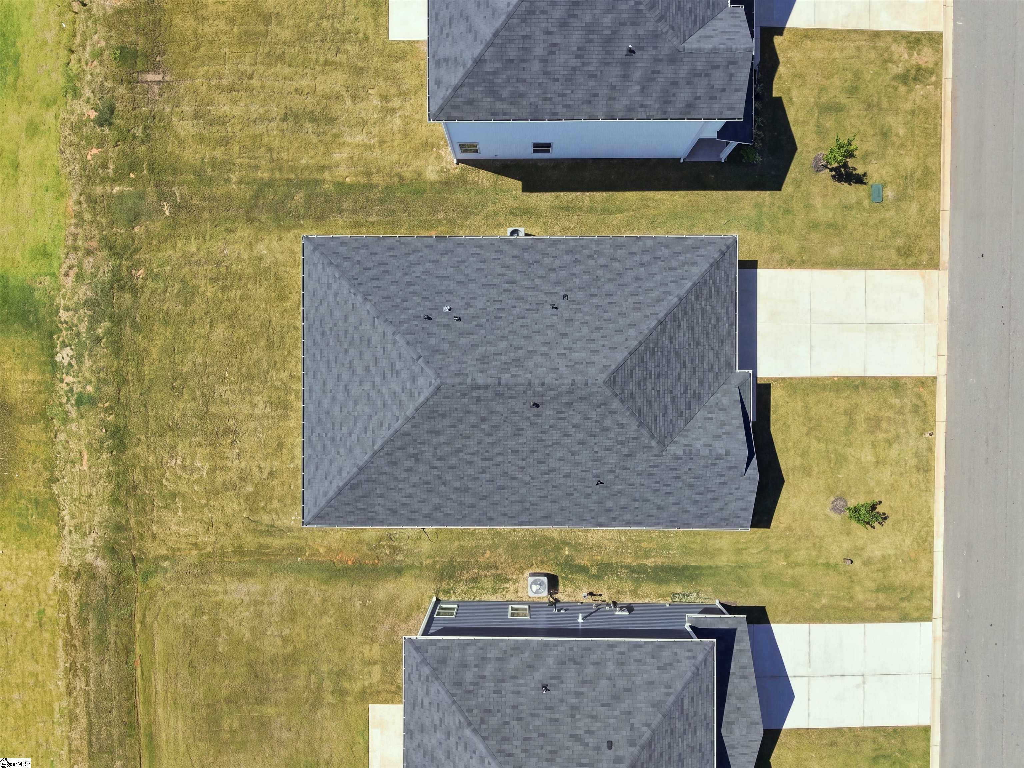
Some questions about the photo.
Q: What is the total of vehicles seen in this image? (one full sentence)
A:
The photo contains no vehicles.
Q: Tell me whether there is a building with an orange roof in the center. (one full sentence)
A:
No, there is no building with an orange roof in the center.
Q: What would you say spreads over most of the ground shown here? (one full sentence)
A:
The bulk of the photo consists of grass.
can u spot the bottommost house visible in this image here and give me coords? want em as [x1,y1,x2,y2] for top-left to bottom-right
[403,591,764,768]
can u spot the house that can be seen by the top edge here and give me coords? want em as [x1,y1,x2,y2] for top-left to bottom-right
[428,0,758,164]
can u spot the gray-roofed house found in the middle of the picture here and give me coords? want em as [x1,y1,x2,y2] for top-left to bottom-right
[301,234,759,530]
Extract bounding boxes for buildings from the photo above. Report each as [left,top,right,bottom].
[301,234,759,530]
[403,591,764,768]
[428,0,758,164]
